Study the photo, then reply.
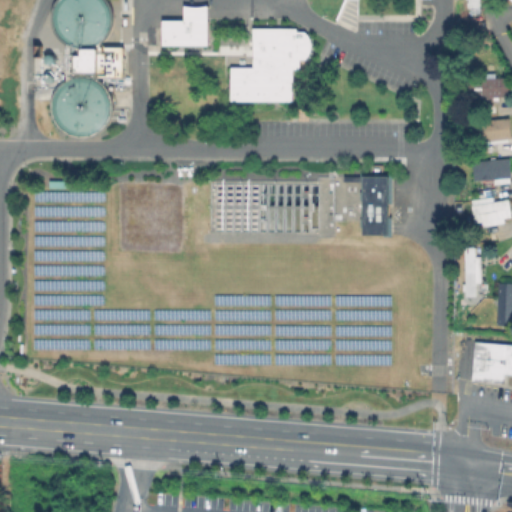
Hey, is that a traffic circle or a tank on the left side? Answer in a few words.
tank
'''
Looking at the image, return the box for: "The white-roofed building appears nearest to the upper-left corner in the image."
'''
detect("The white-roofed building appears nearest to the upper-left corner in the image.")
[72,48,96,75]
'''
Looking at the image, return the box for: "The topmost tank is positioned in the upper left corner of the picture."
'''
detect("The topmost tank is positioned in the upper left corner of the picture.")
[50,0,114,48]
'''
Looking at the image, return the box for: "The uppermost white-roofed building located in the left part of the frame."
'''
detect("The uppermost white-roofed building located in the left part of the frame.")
[162,5,208,47]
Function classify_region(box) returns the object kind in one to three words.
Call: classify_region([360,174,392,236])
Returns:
building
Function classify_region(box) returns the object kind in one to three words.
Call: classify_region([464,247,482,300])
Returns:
house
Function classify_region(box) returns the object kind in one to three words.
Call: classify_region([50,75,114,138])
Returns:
storage tank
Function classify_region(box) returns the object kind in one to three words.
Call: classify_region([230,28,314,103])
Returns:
building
